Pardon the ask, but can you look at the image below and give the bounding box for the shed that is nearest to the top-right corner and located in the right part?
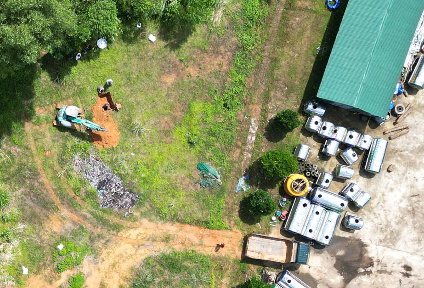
[311,0,424,119]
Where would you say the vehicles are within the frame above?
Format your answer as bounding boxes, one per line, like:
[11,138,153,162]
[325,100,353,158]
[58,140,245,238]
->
[49,101,113,145]
[241,232,308,269]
